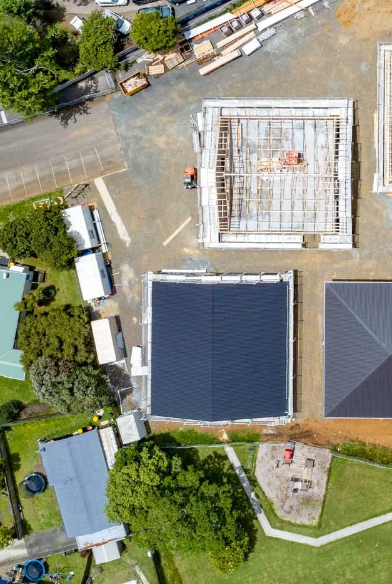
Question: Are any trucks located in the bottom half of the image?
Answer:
No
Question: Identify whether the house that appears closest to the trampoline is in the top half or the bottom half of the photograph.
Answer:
bottom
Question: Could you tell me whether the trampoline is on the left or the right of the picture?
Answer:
left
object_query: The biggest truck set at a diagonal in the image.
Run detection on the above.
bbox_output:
[103,6,134,38]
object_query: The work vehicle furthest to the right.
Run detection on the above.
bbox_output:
[183,168,198,184]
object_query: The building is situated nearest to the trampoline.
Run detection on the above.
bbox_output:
[38,427,121,551]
